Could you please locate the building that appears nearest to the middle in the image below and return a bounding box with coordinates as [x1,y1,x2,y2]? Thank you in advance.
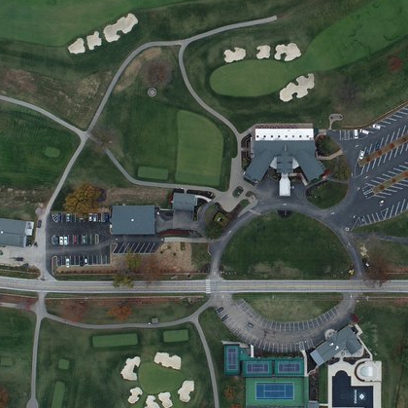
[173,193,197,228]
